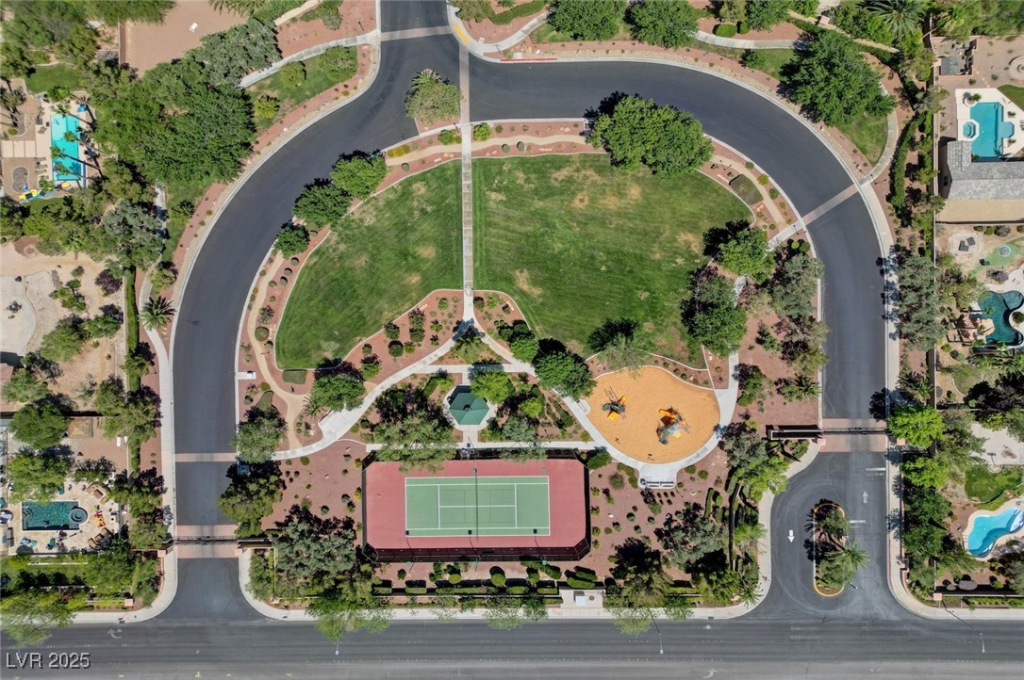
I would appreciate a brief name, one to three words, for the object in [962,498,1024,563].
swimming pool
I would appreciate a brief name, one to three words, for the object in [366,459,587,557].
tennis court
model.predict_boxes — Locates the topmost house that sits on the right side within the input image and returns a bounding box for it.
[939,139,1024,200]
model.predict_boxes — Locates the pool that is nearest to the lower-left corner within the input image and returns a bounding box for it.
[8,477,121,553]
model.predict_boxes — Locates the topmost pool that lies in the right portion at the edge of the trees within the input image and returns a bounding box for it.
[955,88,1024,159]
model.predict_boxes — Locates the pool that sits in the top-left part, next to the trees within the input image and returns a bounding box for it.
[35,98,99,193]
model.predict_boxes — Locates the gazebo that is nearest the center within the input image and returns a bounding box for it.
[449,392,490,426]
